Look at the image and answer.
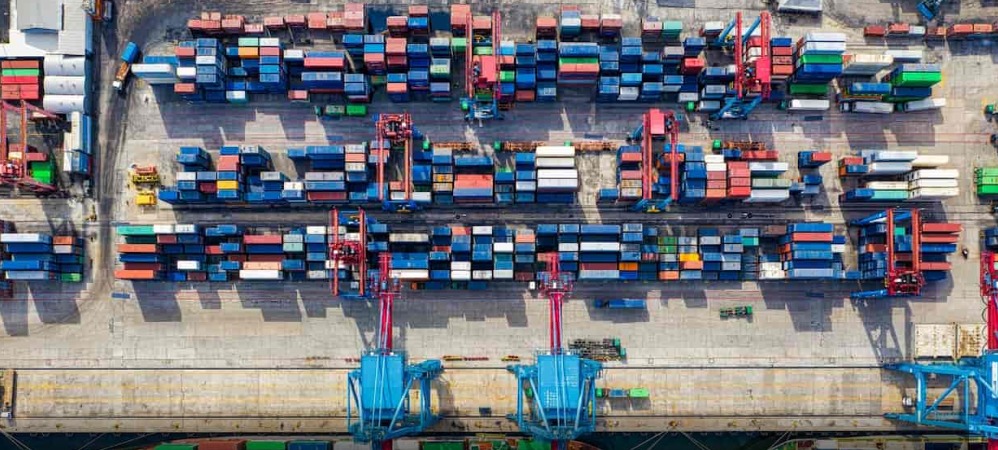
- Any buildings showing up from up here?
Yes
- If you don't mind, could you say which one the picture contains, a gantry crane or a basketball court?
gantry crane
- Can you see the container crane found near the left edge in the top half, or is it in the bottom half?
top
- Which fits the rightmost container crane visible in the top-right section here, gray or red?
red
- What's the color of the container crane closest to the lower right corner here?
blue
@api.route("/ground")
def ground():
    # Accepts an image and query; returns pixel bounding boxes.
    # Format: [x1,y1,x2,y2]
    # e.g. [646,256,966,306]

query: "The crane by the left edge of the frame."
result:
[0,97,72,195]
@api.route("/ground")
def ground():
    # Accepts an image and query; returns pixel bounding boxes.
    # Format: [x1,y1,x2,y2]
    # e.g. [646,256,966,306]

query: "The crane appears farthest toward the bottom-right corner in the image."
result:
[882,251,998,450]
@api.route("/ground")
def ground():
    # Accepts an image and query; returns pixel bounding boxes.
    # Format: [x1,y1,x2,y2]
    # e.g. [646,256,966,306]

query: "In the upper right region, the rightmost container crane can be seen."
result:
[710,11,771,117]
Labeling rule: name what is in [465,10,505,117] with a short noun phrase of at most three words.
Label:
container crane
